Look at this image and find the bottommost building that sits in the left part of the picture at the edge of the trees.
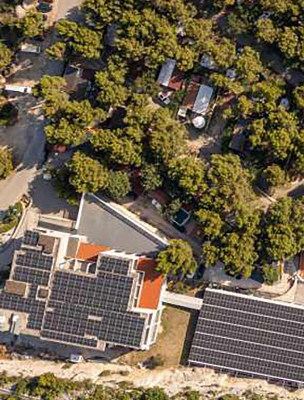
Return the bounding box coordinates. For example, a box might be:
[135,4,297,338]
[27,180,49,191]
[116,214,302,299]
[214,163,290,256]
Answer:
[0,227,178,353]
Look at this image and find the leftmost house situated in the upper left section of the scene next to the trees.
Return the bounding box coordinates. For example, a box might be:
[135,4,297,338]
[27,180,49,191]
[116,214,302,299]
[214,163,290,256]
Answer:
[65,68,86,91]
